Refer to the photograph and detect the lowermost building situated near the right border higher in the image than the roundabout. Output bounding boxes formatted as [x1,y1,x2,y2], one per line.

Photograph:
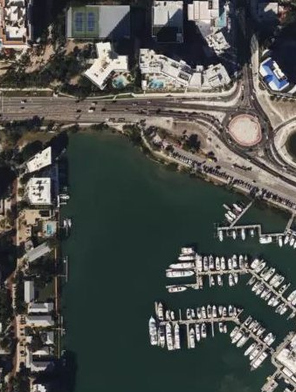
[259,57,290,94]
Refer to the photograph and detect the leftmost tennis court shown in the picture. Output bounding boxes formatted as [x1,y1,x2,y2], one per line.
[71,7,86,38]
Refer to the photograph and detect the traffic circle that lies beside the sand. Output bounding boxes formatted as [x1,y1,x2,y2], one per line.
[220,106,269,154]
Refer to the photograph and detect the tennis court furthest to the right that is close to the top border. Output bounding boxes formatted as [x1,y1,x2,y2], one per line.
[86,7,99,38]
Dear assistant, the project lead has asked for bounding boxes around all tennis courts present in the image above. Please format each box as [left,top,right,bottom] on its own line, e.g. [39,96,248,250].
[86,7,99,38]
[71,7,86,38]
